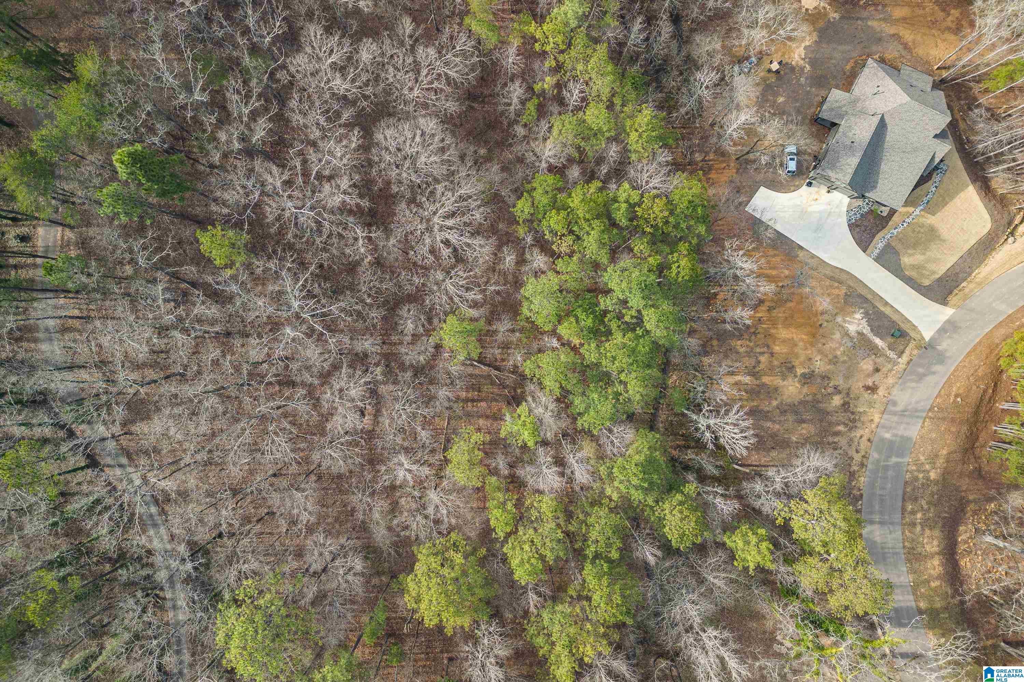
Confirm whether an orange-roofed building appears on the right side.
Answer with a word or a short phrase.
No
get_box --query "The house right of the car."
[805,57,953,212]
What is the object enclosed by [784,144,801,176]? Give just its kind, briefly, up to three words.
car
